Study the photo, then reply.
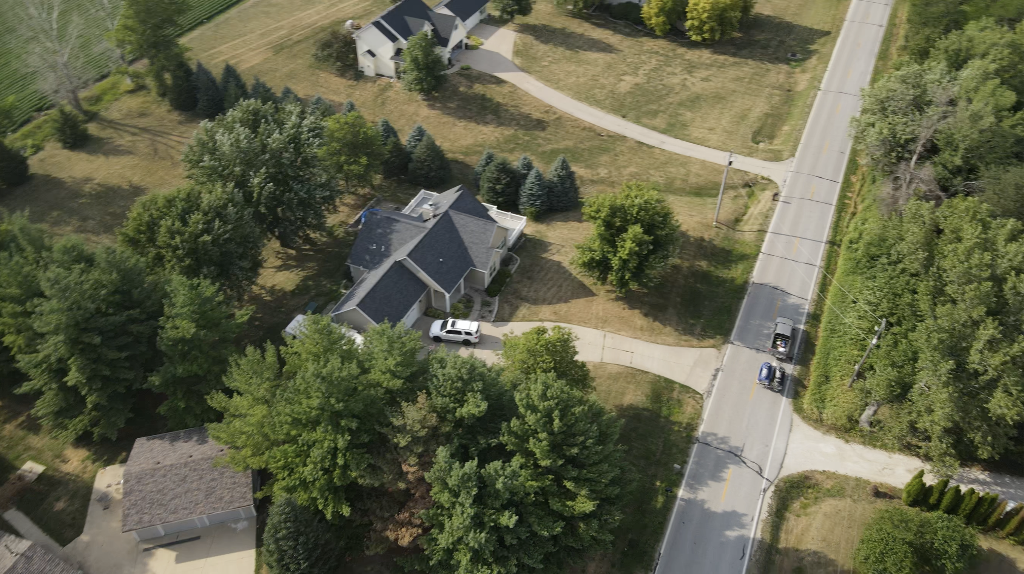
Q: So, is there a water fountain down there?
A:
No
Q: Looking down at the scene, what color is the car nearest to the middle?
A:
white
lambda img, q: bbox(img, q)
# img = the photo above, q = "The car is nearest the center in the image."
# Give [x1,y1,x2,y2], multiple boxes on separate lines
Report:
[428,320,478,346]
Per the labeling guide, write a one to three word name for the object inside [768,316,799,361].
truck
